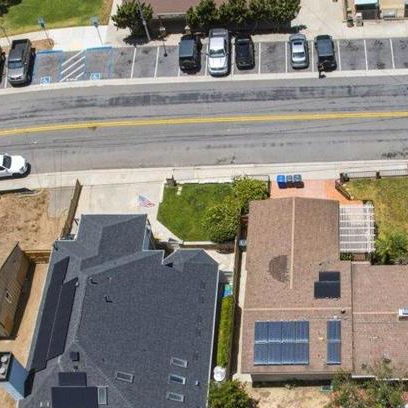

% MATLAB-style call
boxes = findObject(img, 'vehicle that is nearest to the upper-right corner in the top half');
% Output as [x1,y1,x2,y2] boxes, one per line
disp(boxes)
[315,31,337,73]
